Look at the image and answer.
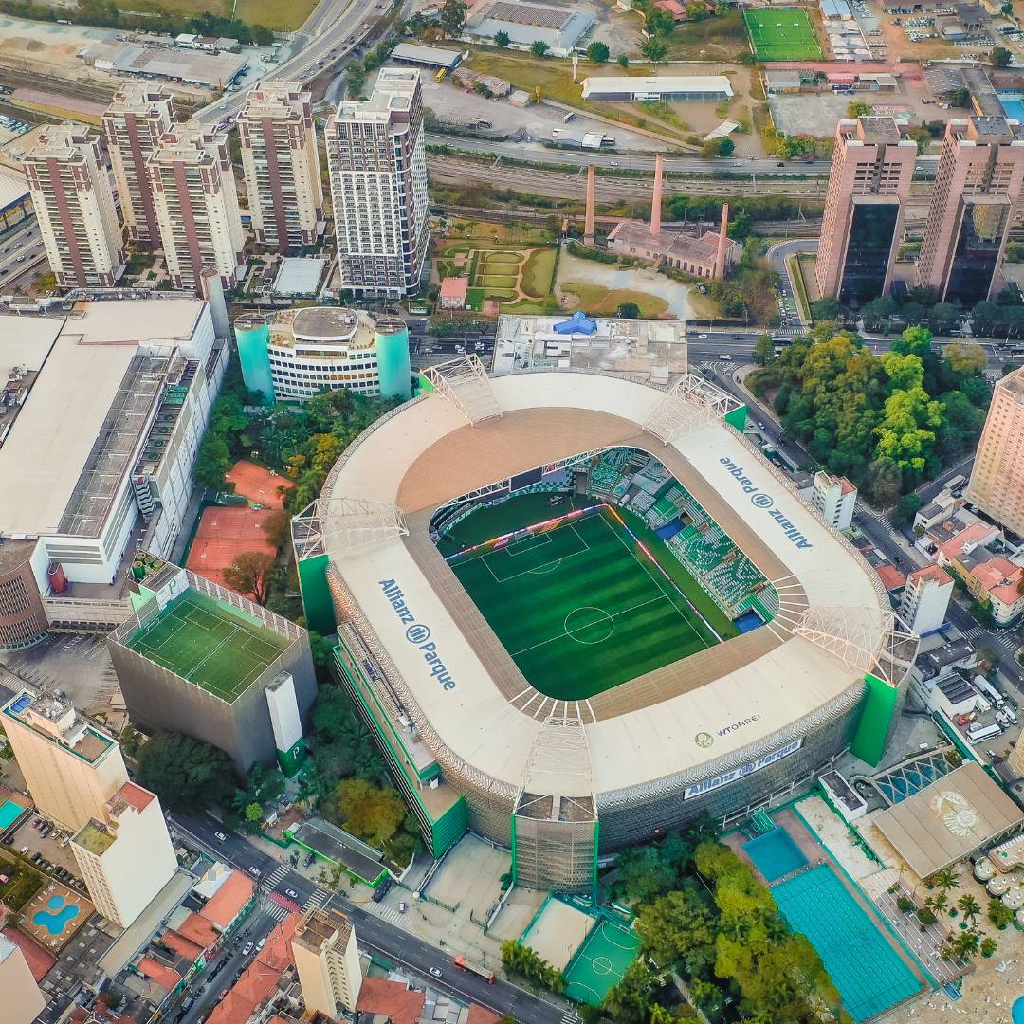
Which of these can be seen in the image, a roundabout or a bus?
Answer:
bus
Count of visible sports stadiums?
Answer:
1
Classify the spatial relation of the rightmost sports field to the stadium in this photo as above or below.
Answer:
above it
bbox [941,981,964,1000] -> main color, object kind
blue swimming pool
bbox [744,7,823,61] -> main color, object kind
green sports field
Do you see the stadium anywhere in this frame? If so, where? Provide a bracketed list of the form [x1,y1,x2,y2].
[289,353,919,892]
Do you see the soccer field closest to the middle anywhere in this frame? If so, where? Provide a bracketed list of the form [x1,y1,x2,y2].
[443,496,739,699]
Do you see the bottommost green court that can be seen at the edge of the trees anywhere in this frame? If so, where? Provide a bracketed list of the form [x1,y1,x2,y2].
[565,918,641,1005]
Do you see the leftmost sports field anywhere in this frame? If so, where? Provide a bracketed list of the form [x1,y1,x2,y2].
[118,589,294,704]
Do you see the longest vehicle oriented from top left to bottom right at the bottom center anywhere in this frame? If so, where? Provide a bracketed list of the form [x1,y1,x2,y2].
[448,945,501,985]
